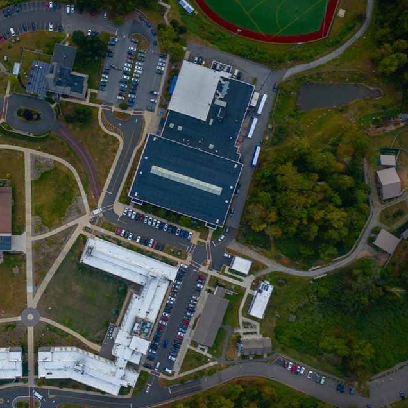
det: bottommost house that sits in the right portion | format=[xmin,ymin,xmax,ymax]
[238,337,274,359]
